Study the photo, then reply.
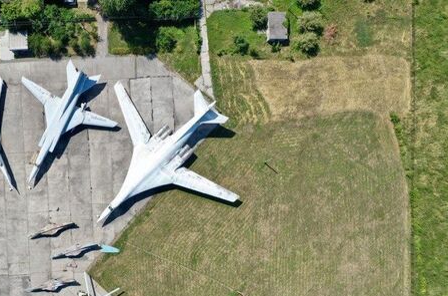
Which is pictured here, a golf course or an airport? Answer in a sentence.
It's an airport.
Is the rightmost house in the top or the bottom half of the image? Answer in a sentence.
The rightmost house sits in the top half of the picture.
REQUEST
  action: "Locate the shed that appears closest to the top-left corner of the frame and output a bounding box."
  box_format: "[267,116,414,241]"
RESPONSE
[10,33,28,52]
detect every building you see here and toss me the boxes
[10,33,28,52]
[266,12,287,41]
